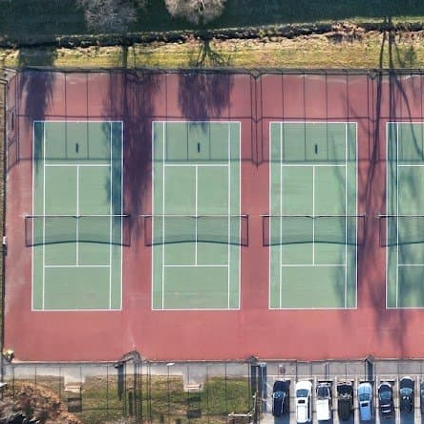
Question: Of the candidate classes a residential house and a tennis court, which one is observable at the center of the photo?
tennis court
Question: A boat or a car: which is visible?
car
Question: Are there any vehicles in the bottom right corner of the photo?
Yes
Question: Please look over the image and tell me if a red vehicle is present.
No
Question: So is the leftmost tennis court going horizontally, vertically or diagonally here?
vertically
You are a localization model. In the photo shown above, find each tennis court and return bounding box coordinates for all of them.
[270,122,357,311]
[152,122,241,311]
[34,122,122,311]
[386,122,424,311]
